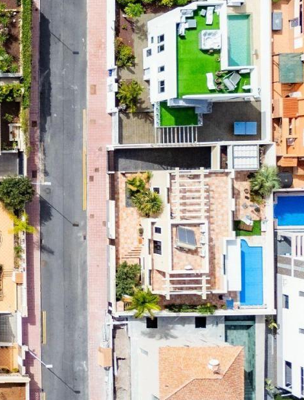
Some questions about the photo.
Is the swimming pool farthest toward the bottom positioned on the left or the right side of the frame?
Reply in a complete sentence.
The swimming pool farthest toward the bottom is on the right side of the image.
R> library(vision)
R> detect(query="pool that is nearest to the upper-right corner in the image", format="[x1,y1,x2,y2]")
[227,13,251,67]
